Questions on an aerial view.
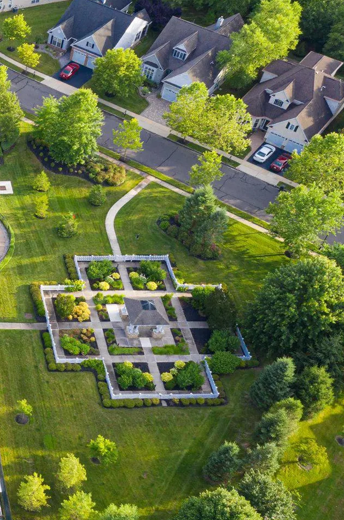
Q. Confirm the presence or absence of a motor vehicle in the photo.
Yes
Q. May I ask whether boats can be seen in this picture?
No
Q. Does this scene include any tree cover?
Yes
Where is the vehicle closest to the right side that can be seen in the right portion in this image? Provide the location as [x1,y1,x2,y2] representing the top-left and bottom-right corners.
[270,153,293,171]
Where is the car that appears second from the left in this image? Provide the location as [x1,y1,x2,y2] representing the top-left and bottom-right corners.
[253,143,276,162]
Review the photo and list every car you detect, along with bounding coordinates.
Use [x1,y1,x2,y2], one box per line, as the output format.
[60,63,81,78]
[253,143,276,162]
[270,153,293,171]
